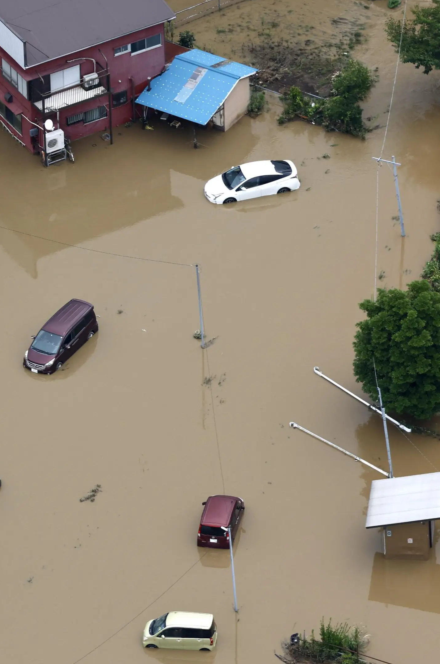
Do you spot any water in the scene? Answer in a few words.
Yes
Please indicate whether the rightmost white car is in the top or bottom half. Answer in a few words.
top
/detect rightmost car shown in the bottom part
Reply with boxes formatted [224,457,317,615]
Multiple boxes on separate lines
[198,497,241,551]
